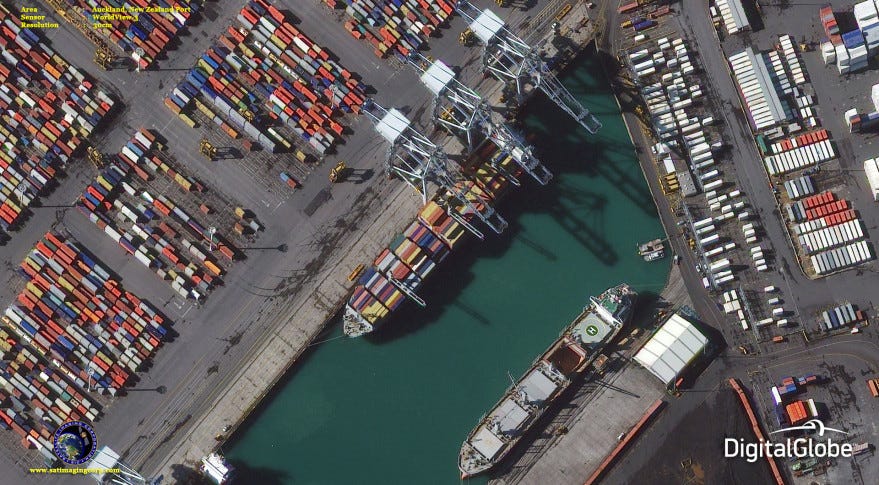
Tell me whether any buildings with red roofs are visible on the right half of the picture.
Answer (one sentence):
No, I can find no building with a red roof on the right half of the picture.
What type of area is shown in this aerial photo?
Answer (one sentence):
It's a port.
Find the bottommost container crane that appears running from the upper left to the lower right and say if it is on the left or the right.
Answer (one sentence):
You can find the bottommost container crane that appears running from the upper left to the lower right on the left side of the picture.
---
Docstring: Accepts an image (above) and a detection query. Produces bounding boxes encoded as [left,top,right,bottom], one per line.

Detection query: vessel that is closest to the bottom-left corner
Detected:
[188,450,236,485]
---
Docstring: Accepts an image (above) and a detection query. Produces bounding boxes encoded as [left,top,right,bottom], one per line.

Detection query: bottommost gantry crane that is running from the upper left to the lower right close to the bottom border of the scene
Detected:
[64,433,142,485]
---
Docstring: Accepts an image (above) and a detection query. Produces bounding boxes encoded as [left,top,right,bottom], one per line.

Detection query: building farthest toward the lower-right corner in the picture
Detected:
[637,313,711,391]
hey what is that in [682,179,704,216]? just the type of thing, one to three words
shed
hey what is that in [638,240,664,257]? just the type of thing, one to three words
ship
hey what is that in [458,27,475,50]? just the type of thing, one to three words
work vehicle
